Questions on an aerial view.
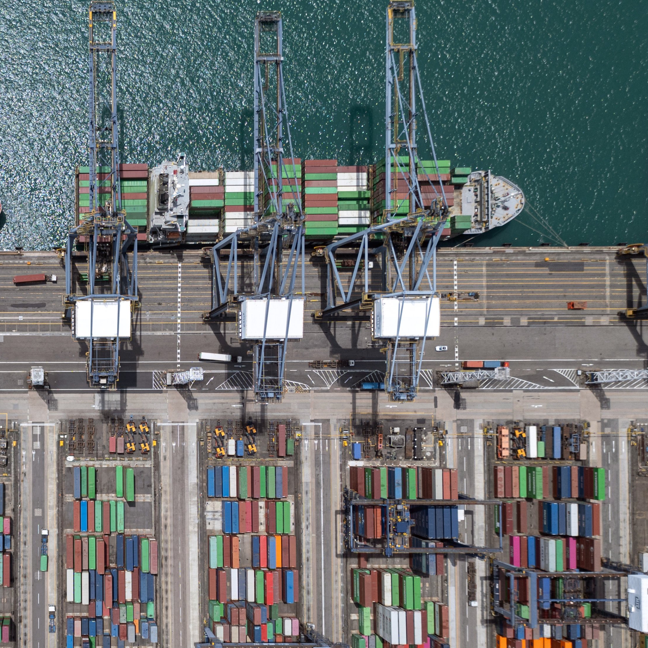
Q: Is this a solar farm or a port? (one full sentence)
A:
This image shows a port.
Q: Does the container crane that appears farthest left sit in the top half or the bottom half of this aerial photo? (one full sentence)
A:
It is in the top half that the container crane that appears farthest left appears.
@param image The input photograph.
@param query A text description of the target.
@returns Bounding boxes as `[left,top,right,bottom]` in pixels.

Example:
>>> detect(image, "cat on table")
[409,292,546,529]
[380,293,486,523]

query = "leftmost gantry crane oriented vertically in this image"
[50,2,143,386]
